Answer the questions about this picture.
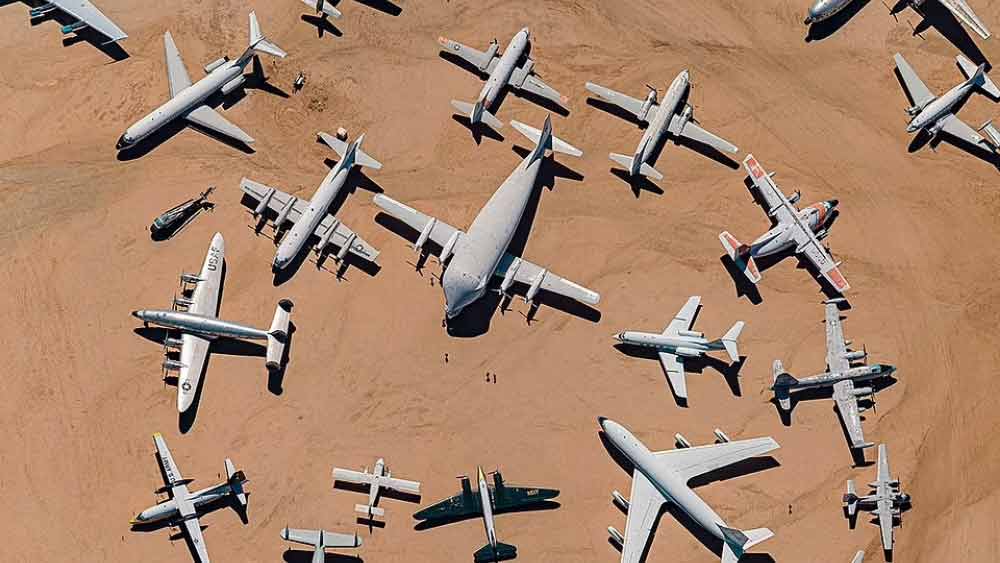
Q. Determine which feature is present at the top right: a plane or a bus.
plane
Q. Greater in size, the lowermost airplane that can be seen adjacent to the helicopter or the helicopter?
the airplane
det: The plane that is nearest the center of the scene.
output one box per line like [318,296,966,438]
[374,117,600,317]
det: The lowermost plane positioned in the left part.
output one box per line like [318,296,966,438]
[280,524,363,563]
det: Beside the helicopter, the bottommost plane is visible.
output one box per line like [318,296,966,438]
[132,232,293,411]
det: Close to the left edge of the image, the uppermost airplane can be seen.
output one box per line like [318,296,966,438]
[34,0,132,45]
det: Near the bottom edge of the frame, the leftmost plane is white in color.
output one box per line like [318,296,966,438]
[129,431,248,563]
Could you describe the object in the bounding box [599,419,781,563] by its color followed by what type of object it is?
white airplane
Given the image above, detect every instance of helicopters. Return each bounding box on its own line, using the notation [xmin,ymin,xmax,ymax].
[150,181,218,227]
